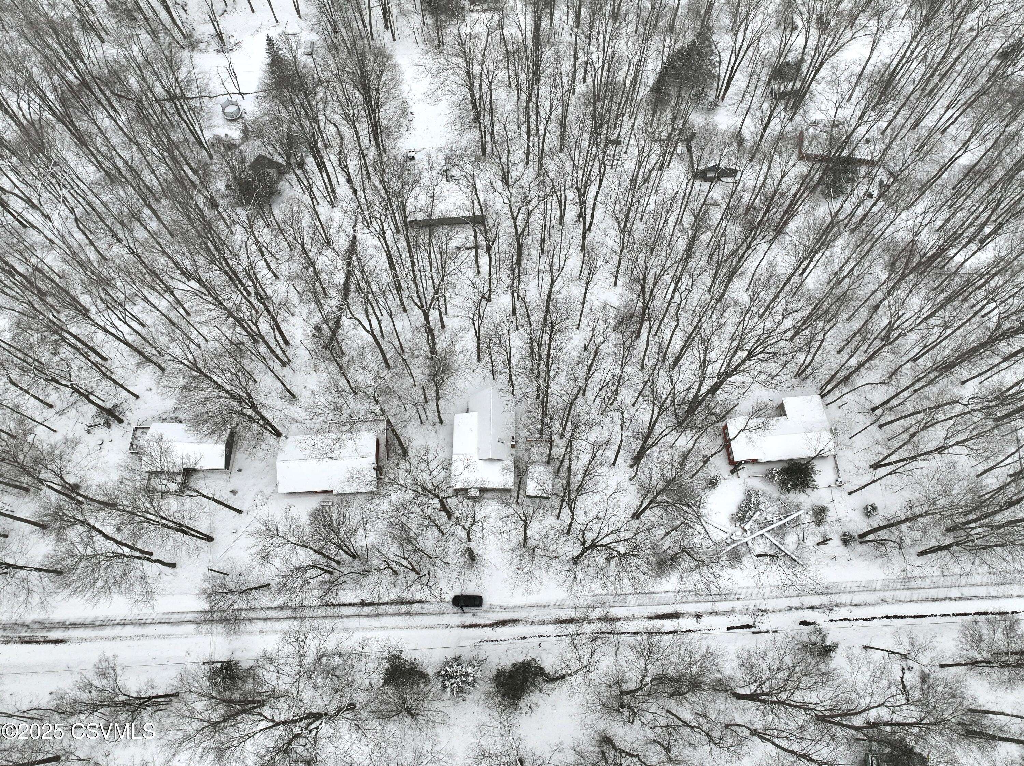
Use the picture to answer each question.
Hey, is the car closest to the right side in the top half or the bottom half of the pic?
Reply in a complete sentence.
It is in the bottom half that the car closest to the right side appears.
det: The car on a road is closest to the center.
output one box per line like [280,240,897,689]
[452,593,483,614]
